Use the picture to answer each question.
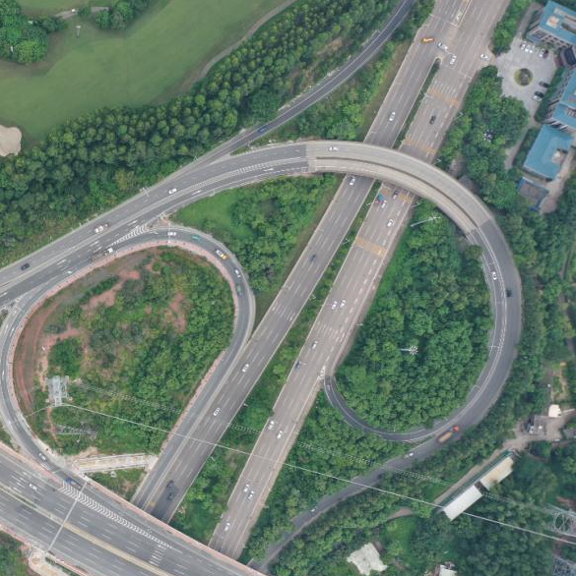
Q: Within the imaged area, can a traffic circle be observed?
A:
No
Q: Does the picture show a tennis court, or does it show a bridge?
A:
bridge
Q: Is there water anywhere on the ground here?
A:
No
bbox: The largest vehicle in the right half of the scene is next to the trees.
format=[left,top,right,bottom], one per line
[438,424,463,443]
